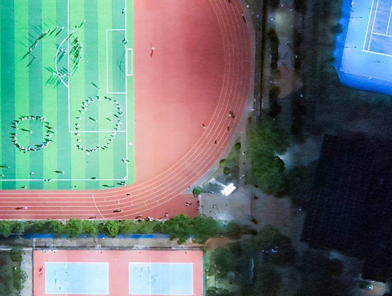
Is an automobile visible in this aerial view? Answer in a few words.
No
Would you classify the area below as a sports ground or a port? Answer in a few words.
sports ground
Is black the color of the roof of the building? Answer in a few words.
Yes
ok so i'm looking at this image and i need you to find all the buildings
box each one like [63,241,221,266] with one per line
[292,133,392,284]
